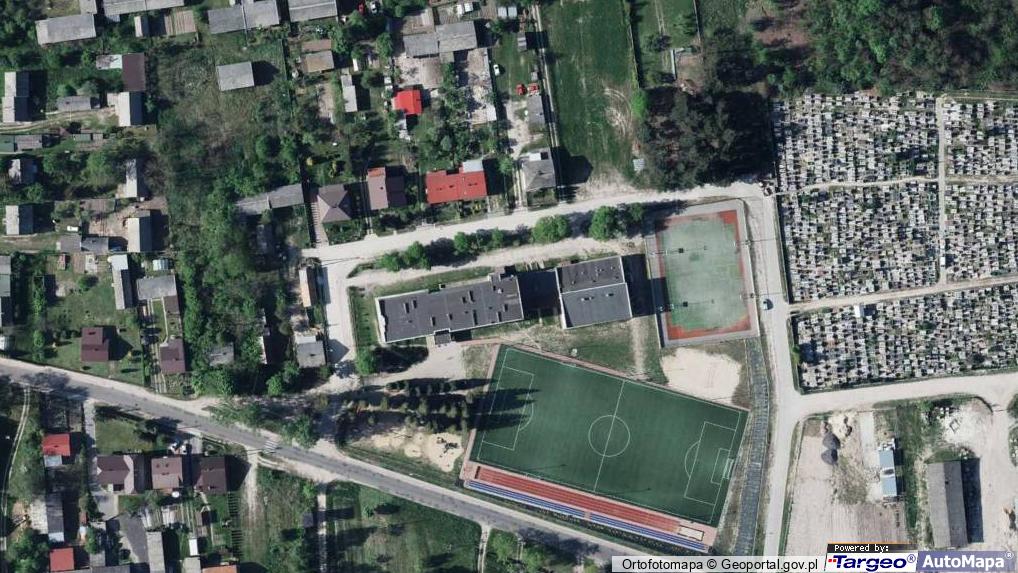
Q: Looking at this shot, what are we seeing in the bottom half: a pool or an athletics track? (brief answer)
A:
athletics track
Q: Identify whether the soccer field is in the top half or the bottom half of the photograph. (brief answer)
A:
bottom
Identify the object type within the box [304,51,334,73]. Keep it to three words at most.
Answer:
shed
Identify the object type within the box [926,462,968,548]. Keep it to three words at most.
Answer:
barn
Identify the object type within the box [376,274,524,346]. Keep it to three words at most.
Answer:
building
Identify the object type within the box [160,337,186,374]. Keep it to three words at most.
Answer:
house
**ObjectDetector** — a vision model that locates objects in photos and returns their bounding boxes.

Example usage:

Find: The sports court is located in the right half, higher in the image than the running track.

[646,198,761,349]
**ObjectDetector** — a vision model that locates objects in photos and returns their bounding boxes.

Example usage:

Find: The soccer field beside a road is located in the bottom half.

[465,338,750,529]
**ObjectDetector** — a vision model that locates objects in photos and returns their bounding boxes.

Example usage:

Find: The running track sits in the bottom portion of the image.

[461,460,718,559]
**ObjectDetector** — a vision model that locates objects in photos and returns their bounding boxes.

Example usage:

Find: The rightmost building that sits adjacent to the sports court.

[554,256,632,328]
